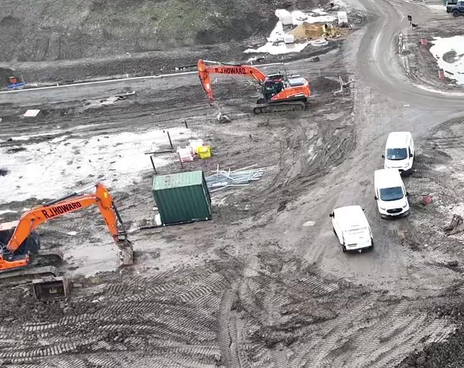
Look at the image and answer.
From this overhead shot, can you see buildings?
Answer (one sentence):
No, no building is visible in the scene.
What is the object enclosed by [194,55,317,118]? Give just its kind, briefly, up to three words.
work vehicle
